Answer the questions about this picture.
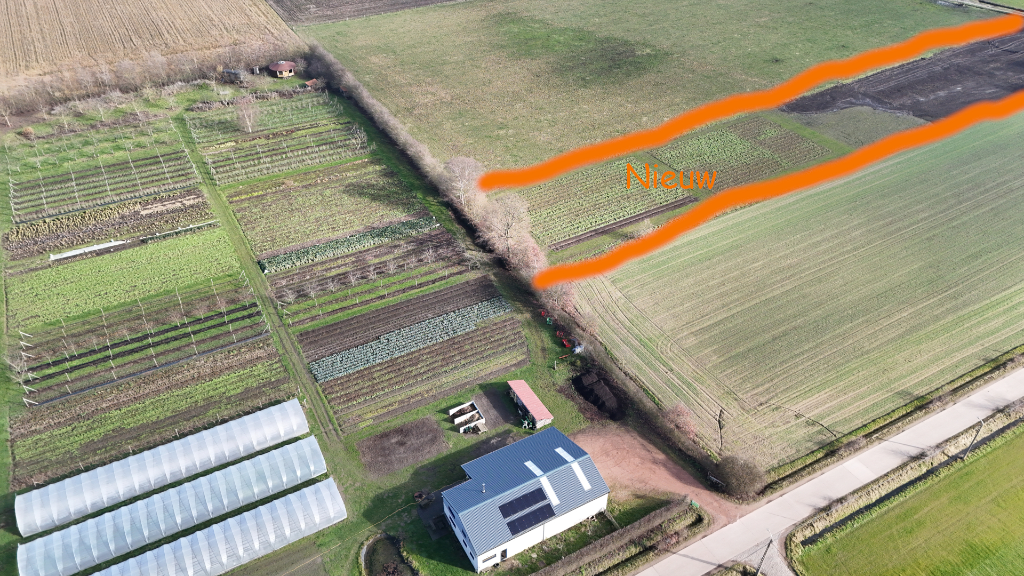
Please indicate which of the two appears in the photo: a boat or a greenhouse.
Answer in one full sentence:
This aerial view contains a greenhouse.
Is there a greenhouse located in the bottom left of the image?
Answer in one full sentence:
Yes, you'll find a greenhouse in the bottom left of the image.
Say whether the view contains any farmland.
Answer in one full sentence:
Yes, farmland shows up in the scene.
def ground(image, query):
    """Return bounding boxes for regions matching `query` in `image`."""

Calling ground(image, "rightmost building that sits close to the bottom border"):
[440,428,612,572]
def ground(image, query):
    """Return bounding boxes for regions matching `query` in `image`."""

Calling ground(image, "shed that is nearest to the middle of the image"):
[507,380,555,431]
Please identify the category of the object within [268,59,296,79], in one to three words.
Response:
shed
